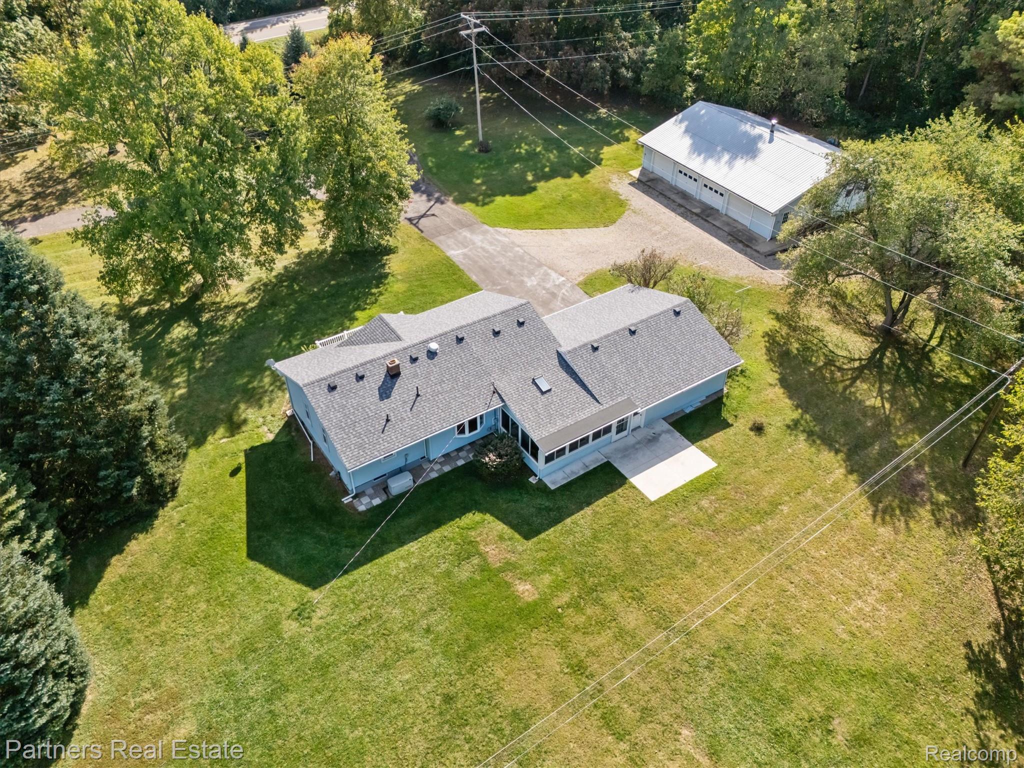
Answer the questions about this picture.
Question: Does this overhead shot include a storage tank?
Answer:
No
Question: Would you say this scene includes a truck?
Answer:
No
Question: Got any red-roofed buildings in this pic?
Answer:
No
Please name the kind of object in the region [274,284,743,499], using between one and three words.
house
